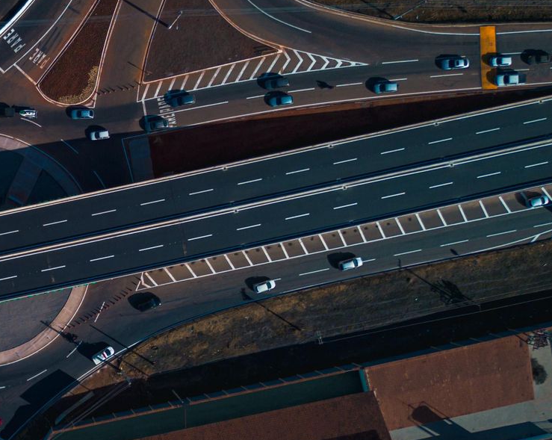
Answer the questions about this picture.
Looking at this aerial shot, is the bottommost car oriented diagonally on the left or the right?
left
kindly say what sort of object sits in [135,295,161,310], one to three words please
car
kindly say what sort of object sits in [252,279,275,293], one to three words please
car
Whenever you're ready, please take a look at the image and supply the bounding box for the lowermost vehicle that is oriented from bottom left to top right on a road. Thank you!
[90,344,117,366]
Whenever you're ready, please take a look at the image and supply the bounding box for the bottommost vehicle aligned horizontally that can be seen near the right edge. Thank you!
[523,194,550,208]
